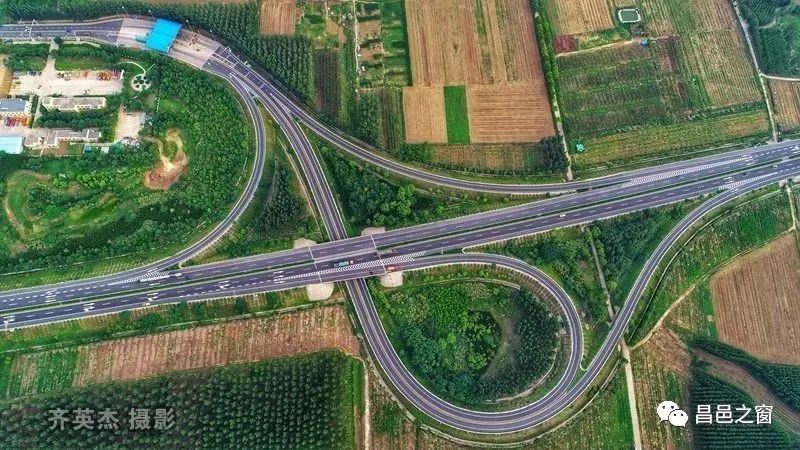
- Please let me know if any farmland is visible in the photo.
Yes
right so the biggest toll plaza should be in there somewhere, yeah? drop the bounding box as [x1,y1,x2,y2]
[145,19,183,55]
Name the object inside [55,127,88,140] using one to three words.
building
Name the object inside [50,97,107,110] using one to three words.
building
